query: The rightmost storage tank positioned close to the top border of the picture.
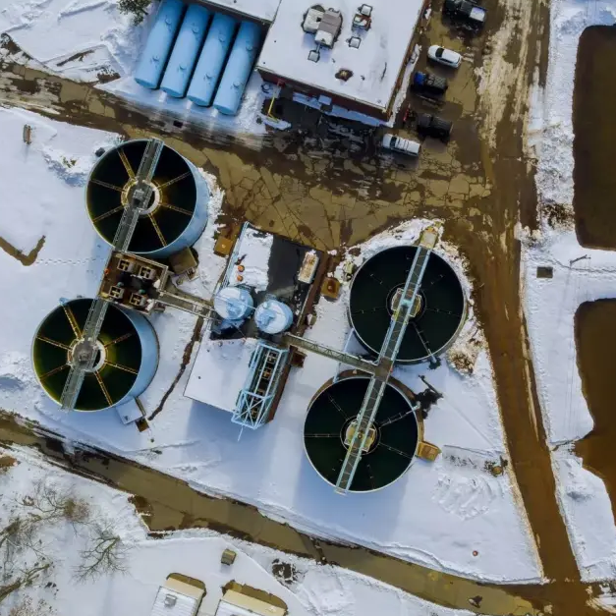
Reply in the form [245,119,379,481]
[215,17,263,127]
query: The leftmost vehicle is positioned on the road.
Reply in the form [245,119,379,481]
[382,135,421,158]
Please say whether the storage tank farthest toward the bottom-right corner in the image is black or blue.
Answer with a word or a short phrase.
black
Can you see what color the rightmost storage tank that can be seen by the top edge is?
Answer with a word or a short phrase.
blue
